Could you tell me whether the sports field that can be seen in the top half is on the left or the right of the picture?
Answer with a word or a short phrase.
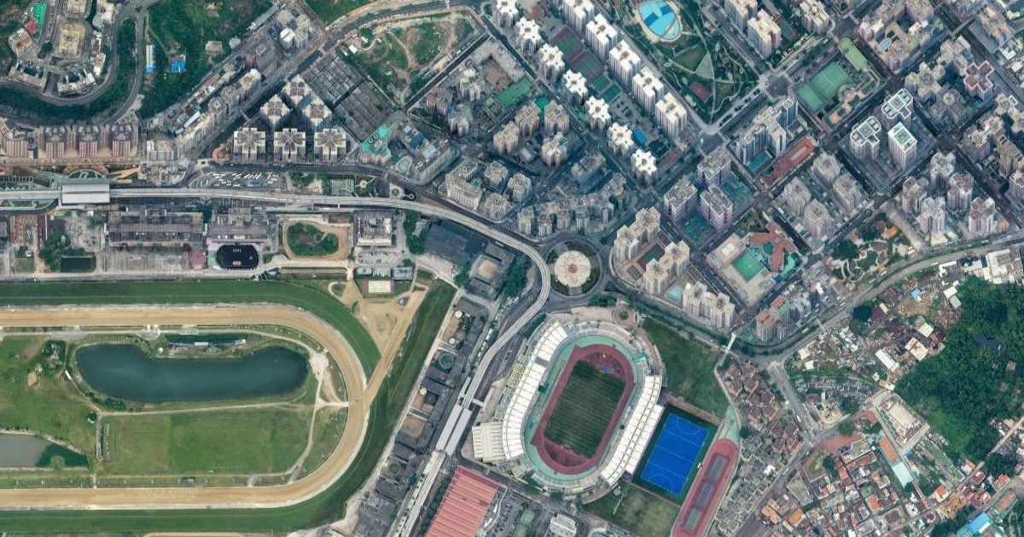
right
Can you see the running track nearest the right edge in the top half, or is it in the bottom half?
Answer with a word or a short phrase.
bottom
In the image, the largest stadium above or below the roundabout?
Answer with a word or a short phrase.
below it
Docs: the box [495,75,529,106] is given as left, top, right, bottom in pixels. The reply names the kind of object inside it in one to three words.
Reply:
sports court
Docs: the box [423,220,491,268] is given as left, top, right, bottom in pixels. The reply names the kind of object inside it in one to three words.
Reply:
building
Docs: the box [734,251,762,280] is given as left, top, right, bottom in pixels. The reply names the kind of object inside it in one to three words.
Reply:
sports court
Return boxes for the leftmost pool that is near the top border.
[635,0,683,44]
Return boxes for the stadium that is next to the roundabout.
[494,307,666,513]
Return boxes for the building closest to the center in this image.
[469,244,515,300]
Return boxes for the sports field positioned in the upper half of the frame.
[796,59,853,111]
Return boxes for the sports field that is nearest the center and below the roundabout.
[544,361,625,457]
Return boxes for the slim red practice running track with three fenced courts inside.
[670,437,742,537]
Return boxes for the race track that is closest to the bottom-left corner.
[0,279,457,534]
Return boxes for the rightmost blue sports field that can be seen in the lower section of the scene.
[632,404,718,506]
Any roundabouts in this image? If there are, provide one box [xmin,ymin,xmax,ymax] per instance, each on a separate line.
[533,230,612,310]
